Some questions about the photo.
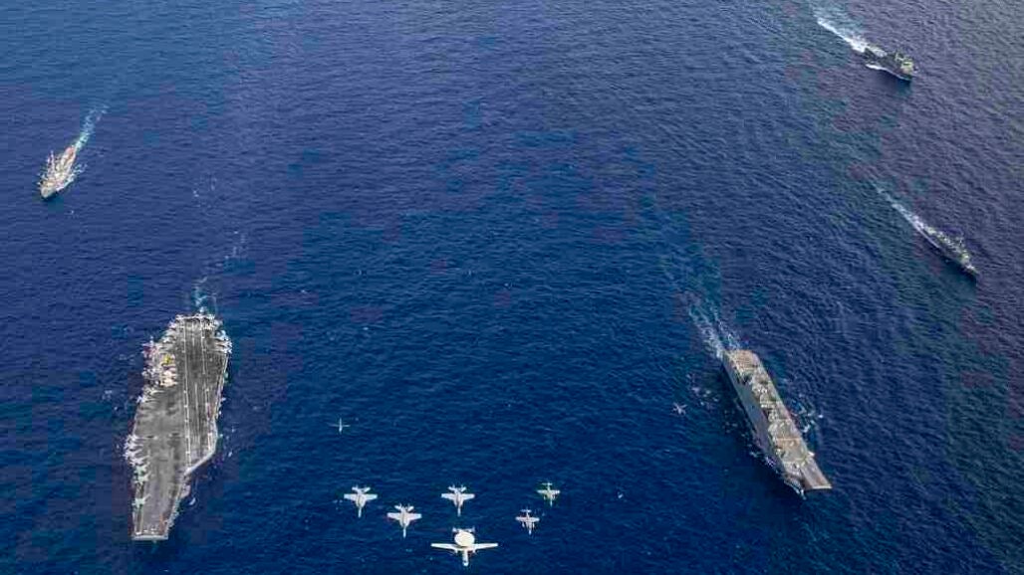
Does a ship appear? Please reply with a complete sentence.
Yes, the photo shows a ship.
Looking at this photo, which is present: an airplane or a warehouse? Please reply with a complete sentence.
Visible in the photo is an airplane.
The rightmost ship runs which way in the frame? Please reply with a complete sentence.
I'd say the rightmost ship is aligned at an angle in the picture.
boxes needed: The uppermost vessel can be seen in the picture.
[864,51,916,82]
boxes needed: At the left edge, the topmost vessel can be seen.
[45,141,85,198]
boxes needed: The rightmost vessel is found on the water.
[917,231,979,279]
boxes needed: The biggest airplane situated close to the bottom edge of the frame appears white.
[432,529,499,567]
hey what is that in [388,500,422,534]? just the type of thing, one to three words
airplane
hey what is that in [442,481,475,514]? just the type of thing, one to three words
airplane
